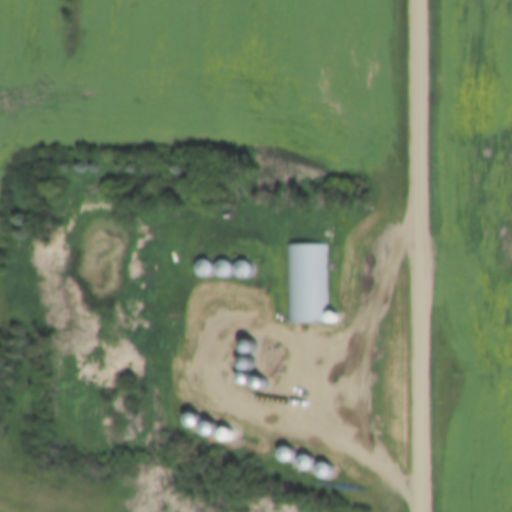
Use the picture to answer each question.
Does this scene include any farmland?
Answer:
Yes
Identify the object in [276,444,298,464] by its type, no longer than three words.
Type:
silo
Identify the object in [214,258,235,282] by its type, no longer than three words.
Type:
silo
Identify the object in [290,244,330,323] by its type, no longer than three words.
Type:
shed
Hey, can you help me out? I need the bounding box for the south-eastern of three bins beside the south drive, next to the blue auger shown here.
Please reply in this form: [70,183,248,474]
[314,460,337,482]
